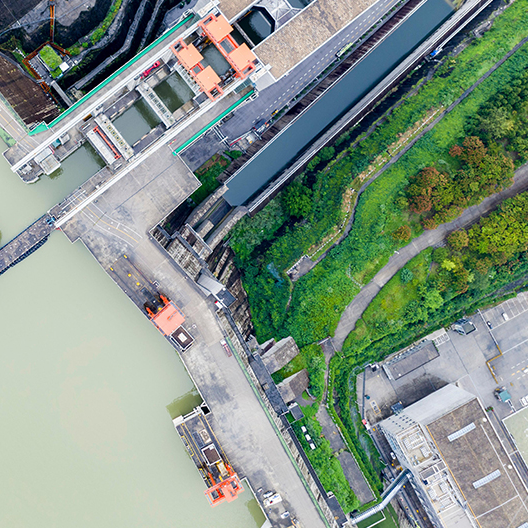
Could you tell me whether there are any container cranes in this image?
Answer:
Yes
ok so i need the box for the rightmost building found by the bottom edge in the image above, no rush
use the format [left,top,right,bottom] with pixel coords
[378,385,528,528]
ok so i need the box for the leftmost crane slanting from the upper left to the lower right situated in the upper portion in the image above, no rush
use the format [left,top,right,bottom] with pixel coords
[165,37,223,105]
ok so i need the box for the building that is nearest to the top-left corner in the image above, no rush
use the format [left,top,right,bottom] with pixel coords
[38,44,70,79]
